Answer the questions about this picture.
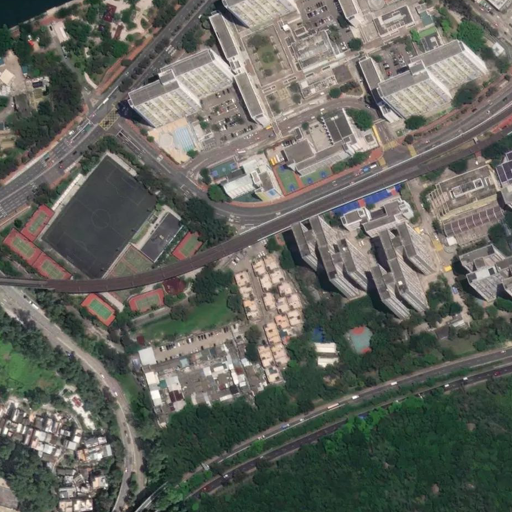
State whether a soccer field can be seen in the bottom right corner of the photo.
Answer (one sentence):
No, looking in the bottom right corner of the photo, there is no soccer field.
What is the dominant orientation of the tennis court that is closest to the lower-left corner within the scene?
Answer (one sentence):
In this picture, the tennis court that is closest to the lower-left corner is oriented diagonally.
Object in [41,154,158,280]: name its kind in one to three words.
soccer field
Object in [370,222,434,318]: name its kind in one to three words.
building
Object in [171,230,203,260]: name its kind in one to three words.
tennis court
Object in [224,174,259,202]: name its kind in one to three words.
building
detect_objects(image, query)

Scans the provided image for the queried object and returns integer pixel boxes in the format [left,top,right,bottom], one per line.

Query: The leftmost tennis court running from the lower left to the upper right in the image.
[20,203,54,241]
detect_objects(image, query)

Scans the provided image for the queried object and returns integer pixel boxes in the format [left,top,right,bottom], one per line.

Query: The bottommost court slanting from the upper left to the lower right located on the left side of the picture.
[80,293,116,326]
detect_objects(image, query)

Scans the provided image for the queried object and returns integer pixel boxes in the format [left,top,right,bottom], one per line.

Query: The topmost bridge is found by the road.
[0,104,512,293]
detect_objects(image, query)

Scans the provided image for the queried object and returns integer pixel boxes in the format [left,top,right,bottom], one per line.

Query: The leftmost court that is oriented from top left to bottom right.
[2,229,40,264]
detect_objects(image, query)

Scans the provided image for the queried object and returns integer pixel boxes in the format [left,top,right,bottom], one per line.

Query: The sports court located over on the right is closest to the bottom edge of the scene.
[350,326,372,354]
